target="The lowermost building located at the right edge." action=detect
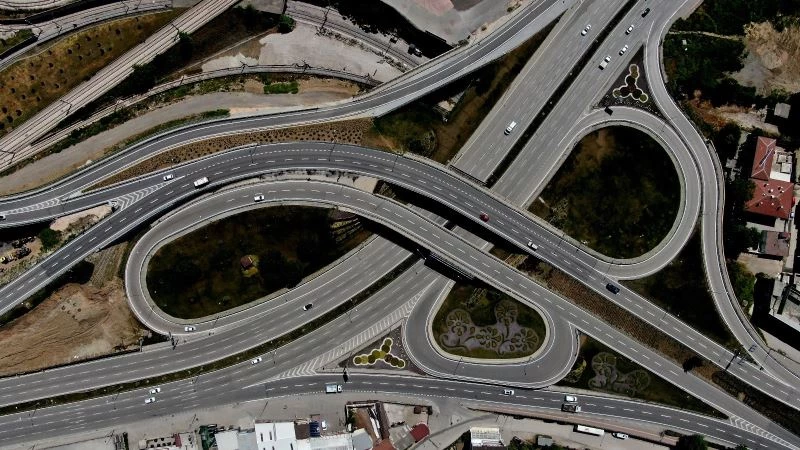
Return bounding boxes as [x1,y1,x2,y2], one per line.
[748,276,800,338]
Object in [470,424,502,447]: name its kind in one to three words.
building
